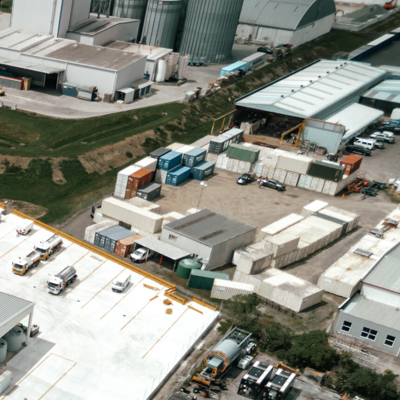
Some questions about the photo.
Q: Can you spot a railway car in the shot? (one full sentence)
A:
Yes, there is a railway car in the image.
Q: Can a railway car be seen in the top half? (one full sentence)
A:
Yes, the scene does show a railway car in the top half.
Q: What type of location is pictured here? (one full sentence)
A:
What you see here is an industrial area.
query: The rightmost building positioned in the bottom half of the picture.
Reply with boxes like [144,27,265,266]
[336,235,400,355]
